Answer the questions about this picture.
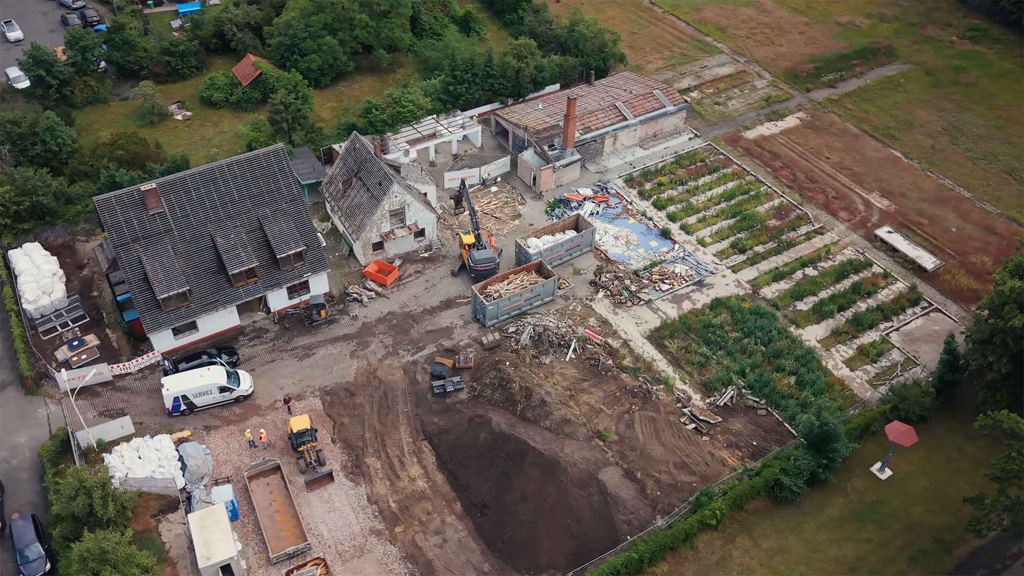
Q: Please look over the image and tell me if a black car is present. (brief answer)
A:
Yes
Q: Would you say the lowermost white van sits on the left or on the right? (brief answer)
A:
left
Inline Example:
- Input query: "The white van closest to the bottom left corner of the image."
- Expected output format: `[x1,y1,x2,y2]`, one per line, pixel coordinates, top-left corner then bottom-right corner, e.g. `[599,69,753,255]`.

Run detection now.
[166,366,256,416]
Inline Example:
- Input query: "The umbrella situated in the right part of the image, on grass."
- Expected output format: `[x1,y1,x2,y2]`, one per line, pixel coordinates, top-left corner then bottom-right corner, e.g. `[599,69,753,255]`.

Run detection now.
[871,420,921,480]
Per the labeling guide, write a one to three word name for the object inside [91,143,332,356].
house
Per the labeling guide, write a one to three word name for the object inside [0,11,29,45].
car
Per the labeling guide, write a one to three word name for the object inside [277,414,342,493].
work vehicle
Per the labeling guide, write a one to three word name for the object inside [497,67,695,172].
shed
